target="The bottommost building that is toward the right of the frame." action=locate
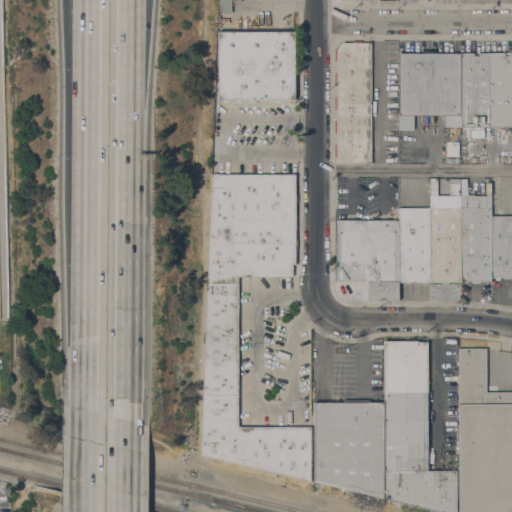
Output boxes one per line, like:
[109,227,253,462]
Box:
[386,471,458,512]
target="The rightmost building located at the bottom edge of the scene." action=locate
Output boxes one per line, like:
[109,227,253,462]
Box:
[459,404,512,512]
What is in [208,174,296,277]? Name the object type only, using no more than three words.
building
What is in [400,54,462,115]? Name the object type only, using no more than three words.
building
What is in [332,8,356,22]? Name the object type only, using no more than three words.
vehicle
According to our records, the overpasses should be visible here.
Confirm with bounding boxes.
[62,398,150,512]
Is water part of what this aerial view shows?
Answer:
No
